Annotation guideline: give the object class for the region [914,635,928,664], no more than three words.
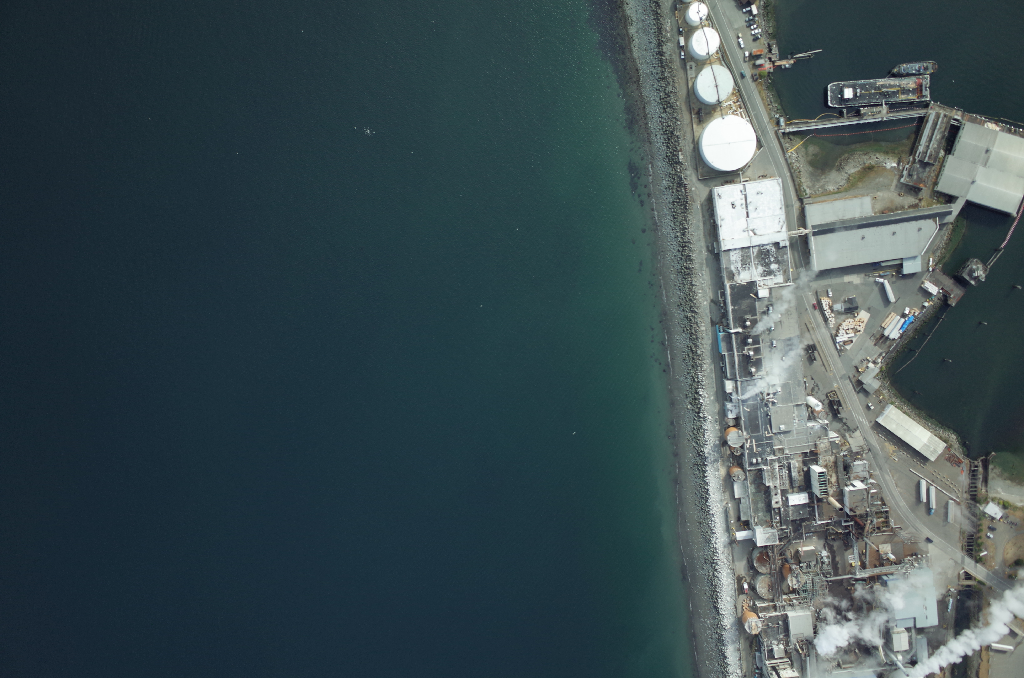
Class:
shed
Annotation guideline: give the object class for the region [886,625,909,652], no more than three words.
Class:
house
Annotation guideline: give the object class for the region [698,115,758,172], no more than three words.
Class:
storage tank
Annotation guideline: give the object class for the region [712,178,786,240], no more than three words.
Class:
building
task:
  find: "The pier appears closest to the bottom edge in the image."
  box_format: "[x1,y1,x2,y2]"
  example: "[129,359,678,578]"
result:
[927,269,966,307]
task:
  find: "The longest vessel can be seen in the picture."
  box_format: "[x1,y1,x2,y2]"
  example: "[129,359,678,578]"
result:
[826,75,930,107]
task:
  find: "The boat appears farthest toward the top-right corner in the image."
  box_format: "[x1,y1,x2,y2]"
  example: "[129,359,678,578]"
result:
[892,61,938,75]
